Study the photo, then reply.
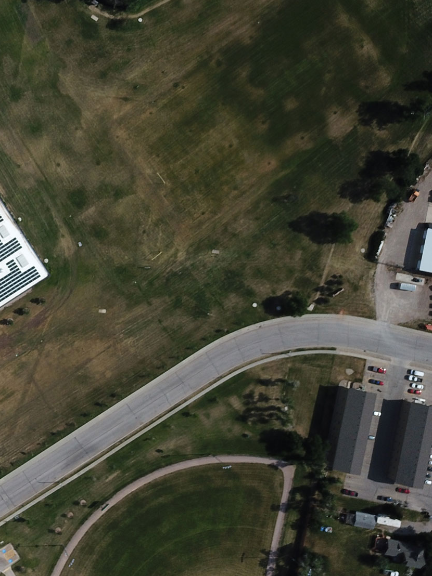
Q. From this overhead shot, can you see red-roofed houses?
No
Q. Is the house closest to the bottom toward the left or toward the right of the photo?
right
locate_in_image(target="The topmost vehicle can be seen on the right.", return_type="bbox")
[410,189,422,203]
